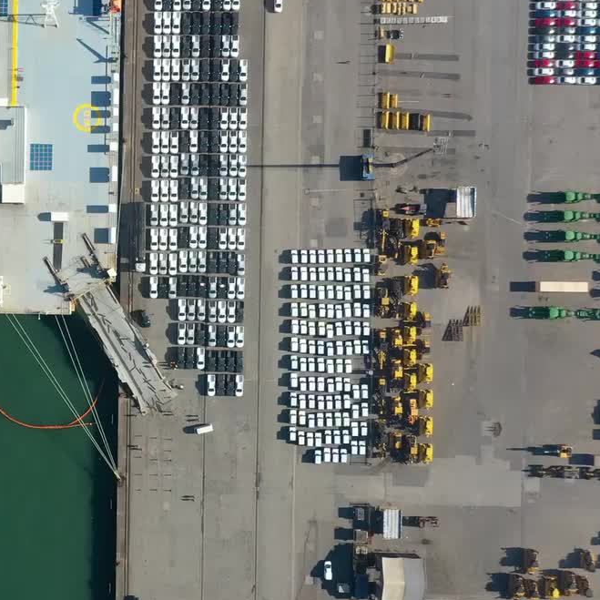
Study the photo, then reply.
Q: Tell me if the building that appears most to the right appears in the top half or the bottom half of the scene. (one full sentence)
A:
The building that appears most to the right sits in the bottom half of the picture.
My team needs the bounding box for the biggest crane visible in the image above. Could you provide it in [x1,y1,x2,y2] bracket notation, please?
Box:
[354,155,413,180]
